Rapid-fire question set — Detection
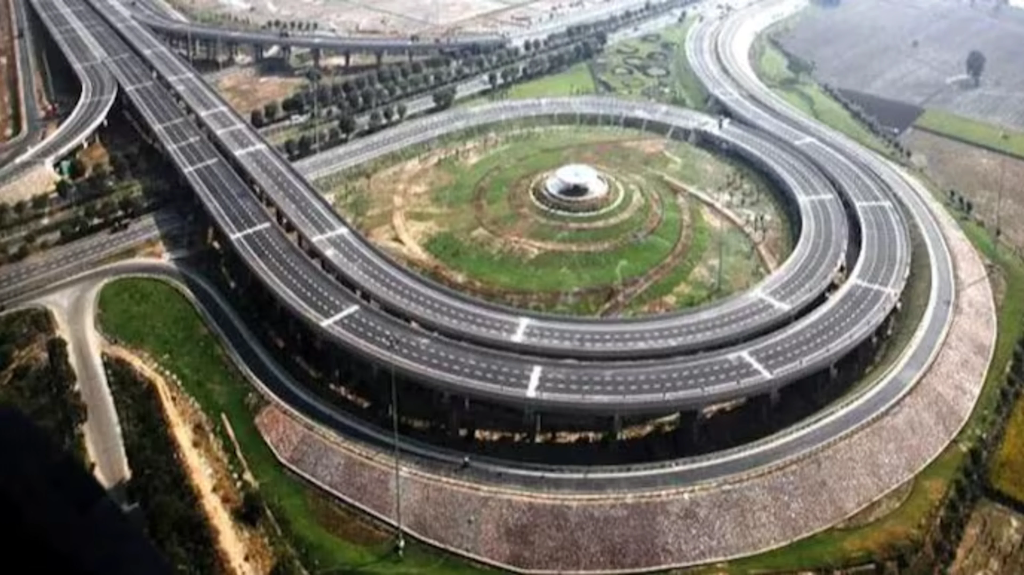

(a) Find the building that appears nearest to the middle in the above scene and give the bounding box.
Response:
[540,172,618,212]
